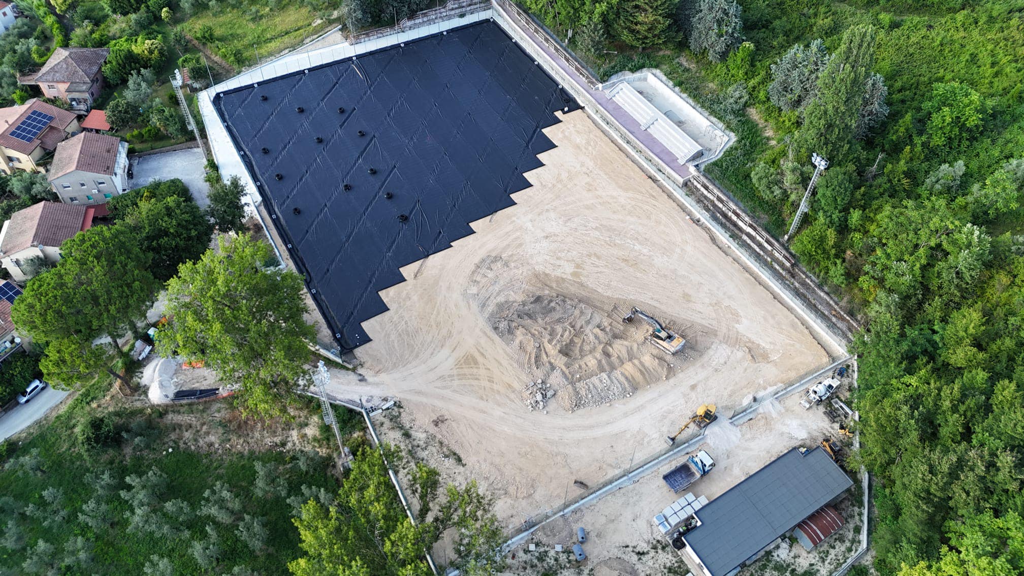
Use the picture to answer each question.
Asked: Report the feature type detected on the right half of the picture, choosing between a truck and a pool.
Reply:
truck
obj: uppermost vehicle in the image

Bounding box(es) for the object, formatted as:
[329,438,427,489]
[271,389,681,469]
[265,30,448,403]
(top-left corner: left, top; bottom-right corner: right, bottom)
[623,302,680,351]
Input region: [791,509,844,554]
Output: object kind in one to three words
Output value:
shed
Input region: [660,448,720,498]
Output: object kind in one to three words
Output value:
truck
